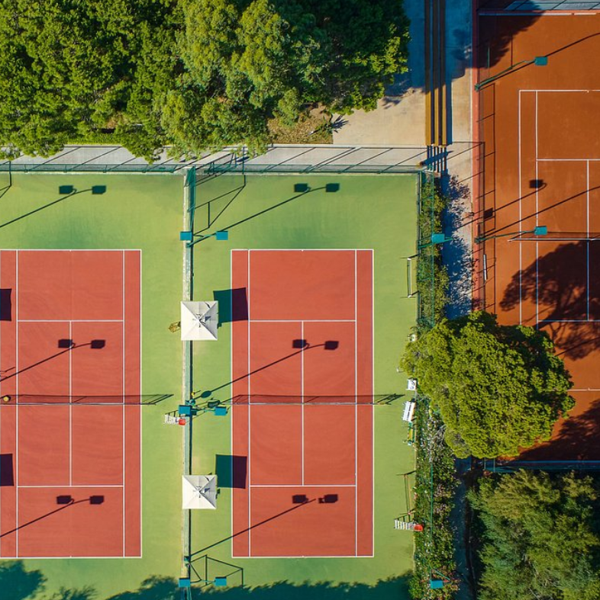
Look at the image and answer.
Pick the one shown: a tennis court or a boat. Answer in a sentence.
Looking from above, you can make out a tennis court.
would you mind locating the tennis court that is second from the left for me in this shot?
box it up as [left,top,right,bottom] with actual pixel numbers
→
[190,171,417,600]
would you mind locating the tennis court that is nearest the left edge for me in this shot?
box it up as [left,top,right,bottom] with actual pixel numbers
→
[0,171,184,600]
